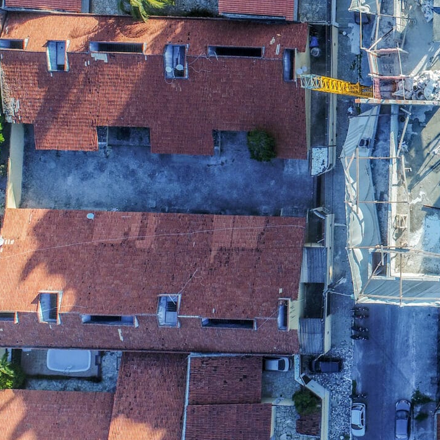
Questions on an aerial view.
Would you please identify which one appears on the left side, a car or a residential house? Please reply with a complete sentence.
Looking on the left side, you will find a residential house.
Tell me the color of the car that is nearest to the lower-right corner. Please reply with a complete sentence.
The car that is nearest to the lower-right corner looks blue in the image.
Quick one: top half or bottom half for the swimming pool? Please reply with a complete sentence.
The swimming pool is in the bottom half of the image.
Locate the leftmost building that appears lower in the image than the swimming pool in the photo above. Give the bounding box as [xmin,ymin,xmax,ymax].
[0,383,115,440]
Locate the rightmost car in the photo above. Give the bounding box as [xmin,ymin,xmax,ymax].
[392,398,412,440]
